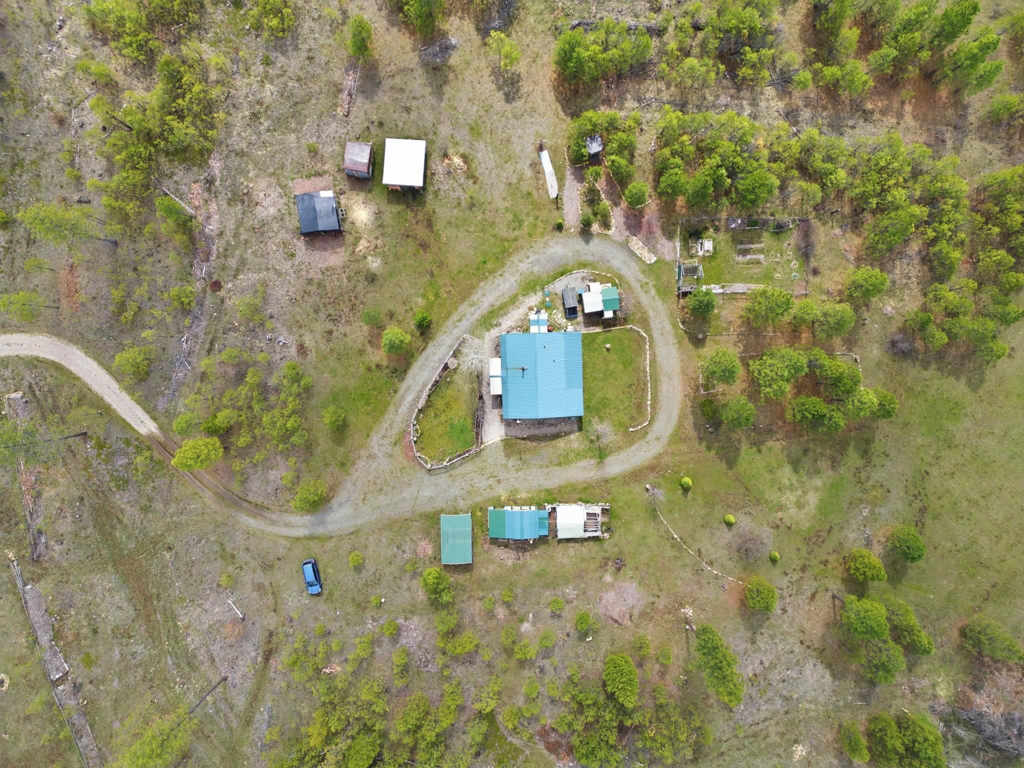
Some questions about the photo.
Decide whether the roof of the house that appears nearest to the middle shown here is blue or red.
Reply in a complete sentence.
In this view, the roof of the house that appears nearest to the middle is blue.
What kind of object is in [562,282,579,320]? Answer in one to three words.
shed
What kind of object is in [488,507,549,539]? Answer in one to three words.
shed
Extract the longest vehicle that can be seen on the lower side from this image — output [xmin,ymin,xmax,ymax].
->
[302,557,321,595]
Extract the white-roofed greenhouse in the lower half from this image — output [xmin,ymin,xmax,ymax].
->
[556,503,600,540]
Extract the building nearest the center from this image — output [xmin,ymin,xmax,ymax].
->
[490,312,583,418]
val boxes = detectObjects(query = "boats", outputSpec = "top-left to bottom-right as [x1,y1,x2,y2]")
[540,150,557,197]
